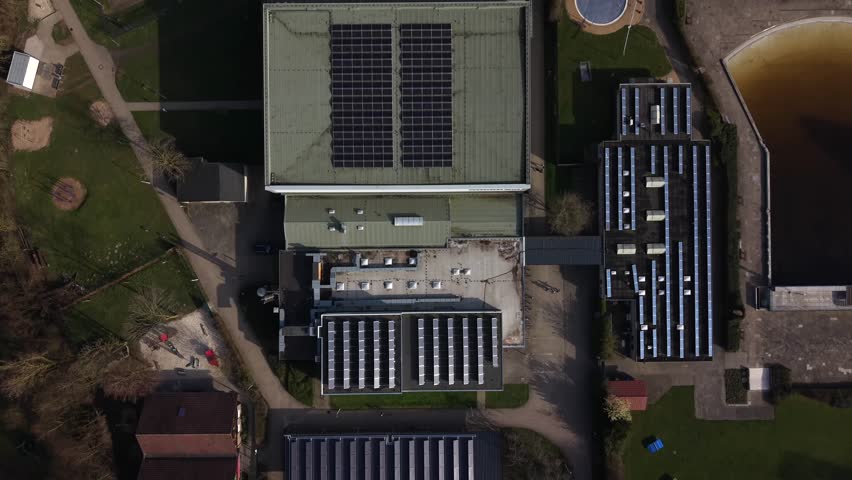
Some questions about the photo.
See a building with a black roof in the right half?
Yes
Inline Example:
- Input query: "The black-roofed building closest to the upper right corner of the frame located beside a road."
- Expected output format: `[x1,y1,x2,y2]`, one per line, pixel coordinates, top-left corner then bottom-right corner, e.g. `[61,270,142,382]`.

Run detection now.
[595,78,714,360]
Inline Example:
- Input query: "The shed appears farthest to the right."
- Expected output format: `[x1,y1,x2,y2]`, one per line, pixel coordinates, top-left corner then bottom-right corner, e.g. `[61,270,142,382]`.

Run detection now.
[743,365,770,390]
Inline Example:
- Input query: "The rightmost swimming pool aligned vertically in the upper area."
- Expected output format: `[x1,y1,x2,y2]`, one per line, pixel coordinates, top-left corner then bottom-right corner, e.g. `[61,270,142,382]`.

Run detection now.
[725,14,852,287]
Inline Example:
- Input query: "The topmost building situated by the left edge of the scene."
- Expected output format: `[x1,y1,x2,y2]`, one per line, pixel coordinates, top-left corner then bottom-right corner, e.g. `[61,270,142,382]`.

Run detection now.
[7,51,48,92]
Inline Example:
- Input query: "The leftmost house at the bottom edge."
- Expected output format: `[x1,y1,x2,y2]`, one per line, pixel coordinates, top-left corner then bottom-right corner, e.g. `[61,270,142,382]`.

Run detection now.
[133,388,243,480]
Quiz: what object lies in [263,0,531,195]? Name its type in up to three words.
building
